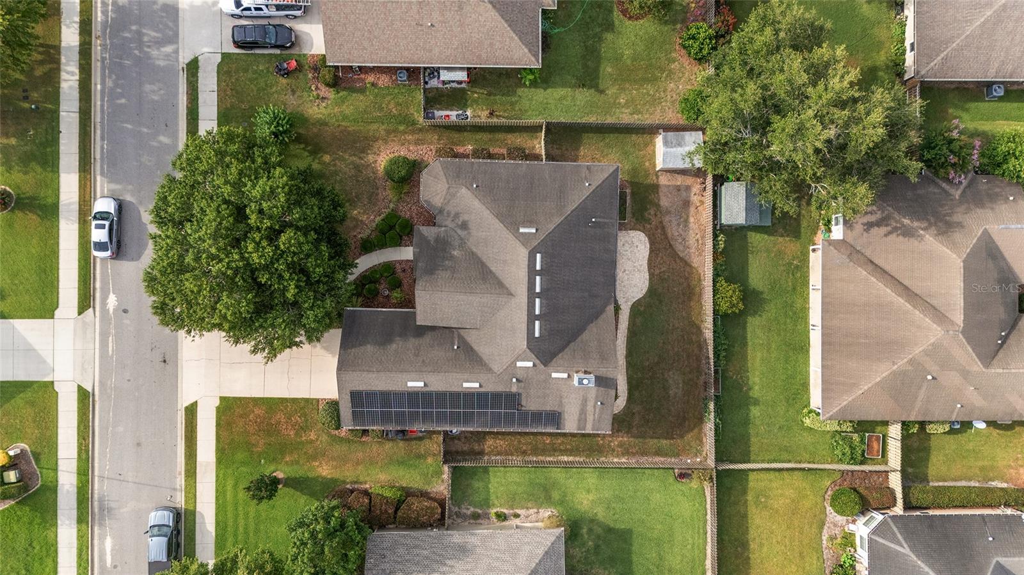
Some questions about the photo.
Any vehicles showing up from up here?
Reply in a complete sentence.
Yes, you can see a vehicle in this photo.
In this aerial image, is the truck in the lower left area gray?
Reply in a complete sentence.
Yes, gray is the color of the truck in the lower left area.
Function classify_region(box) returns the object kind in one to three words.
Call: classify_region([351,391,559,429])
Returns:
solar array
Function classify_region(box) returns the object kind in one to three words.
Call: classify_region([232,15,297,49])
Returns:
car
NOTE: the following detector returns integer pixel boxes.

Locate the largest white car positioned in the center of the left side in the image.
[86,196,122,258]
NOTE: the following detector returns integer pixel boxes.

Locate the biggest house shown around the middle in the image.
[337,157,621,436]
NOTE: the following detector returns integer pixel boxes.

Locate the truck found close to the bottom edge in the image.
[145,504,181,575]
